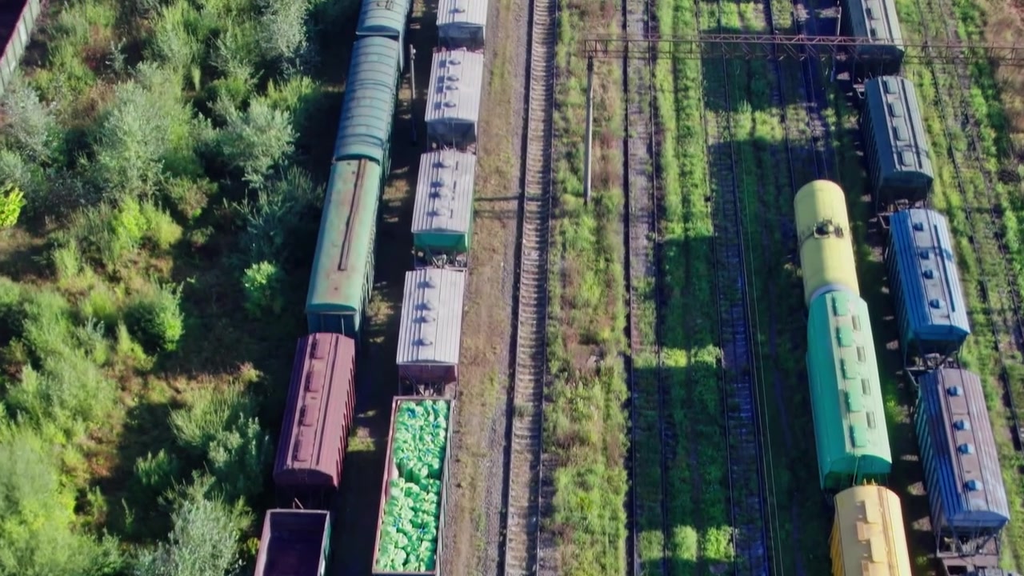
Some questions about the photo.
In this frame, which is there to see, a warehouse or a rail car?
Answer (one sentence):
Visible in the photo is a rail car.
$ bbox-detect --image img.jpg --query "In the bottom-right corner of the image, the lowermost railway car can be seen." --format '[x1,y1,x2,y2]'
[830,487,911,576]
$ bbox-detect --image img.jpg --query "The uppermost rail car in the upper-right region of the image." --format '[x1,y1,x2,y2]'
[841,0,909,110]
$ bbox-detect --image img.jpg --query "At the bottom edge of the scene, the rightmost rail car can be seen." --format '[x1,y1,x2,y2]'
[911,376,1009,576]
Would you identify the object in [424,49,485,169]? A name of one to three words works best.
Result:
rail car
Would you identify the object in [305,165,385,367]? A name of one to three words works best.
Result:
rail car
